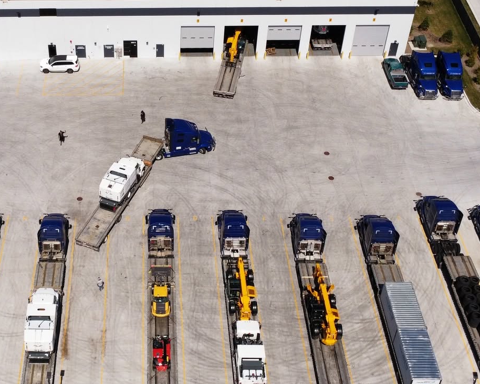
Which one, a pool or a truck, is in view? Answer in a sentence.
Looking from above, you can make out a truck.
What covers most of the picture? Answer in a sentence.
The largest share of the image is taken up by paved ground.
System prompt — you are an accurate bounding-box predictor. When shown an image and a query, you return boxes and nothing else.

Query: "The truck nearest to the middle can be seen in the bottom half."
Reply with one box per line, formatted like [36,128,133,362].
[217,209,252,259]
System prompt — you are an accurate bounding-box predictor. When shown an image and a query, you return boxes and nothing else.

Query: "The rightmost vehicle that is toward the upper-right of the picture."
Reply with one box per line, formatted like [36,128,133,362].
[430,46,465,97]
